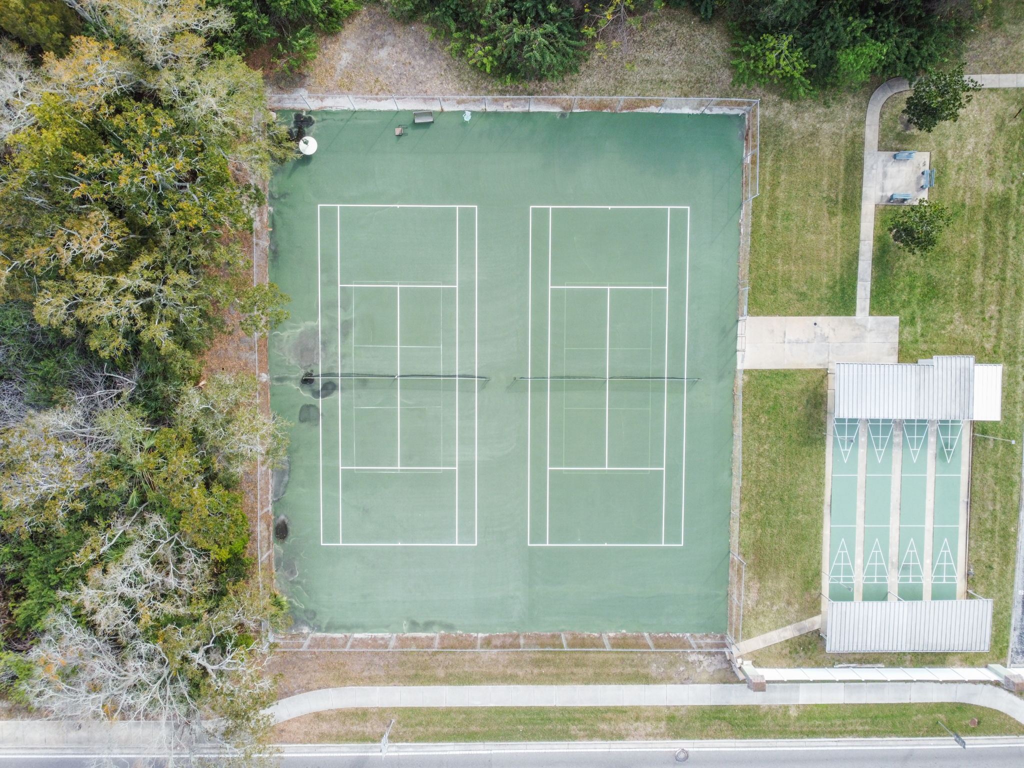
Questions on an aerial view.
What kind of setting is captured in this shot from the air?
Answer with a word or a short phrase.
sports ground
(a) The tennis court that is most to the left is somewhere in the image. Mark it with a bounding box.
[268,110,530,635]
